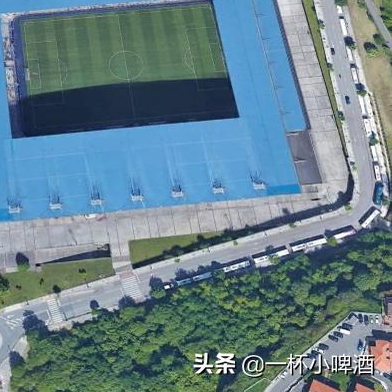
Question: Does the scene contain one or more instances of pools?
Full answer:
No, I can see no pool in this picture.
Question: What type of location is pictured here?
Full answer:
This image shows a sports ground.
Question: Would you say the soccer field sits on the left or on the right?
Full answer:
The soccer field is on the left side of the image.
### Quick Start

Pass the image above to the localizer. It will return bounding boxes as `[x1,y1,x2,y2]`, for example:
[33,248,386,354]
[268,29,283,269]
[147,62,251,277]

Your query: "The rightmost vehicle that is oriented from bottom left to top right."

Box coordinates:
[360,210,381,230]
